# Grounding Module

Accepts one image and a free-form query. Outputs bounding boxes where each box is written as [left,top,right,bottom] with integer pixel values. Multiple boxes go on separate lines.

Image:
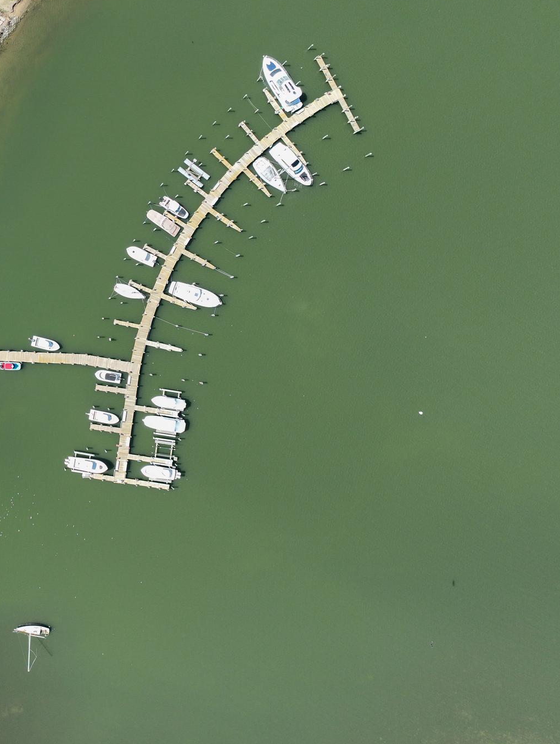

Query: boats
[168,280,223,308]
[64,456,108,474]
[143,415,190,433]
[0,362,21,371]
[156,194,188,217]
[15,625,49,669]
[149,212,180,237]
[81,409,120,425]
[254,157,294,192]
[113,283,145,298]
[127,247,161,267]
[260,54,301,119]
[267,140,314,184]
[142,466,180,481]
[152,395,189,410]
[96,370,127,384]
[25,336,59,351]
